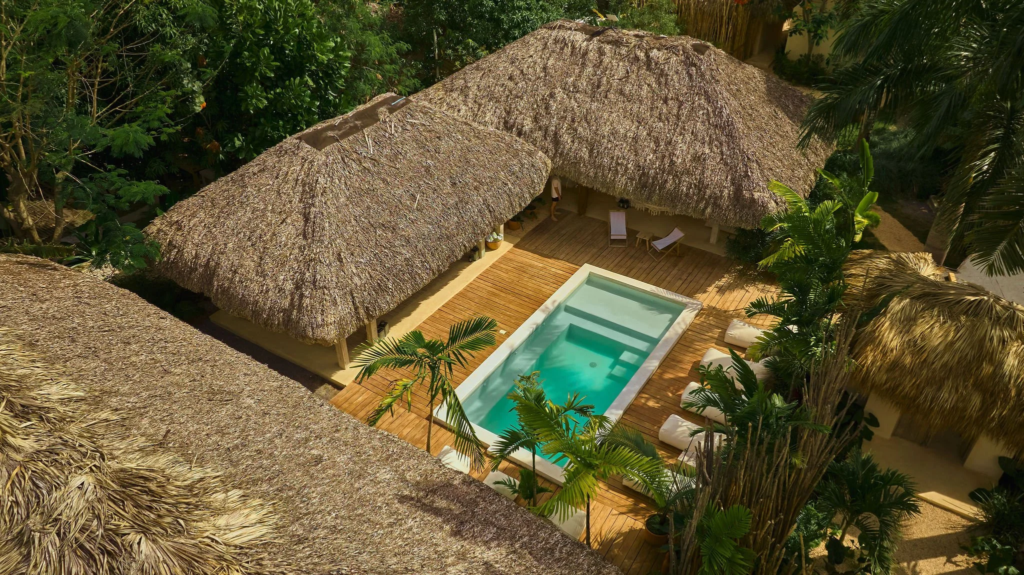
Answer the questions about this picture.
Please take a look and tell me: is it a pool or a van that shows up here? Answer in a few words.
pool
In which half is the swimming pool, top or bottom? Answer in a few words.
bottom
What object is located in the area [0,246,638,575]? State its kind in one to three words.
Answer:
house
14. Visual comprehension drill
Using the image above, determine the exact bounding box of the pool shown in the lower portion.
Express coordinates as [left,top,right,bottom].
[434,263,702,491]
